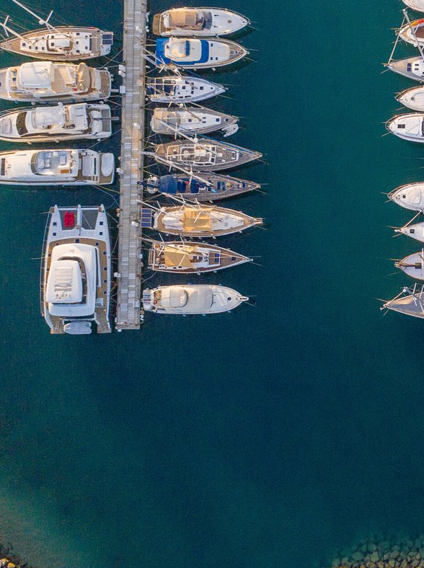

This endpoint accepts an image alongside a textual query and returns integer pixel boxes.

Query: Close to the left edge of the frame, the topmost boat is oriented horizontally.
[0,1,123,60]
